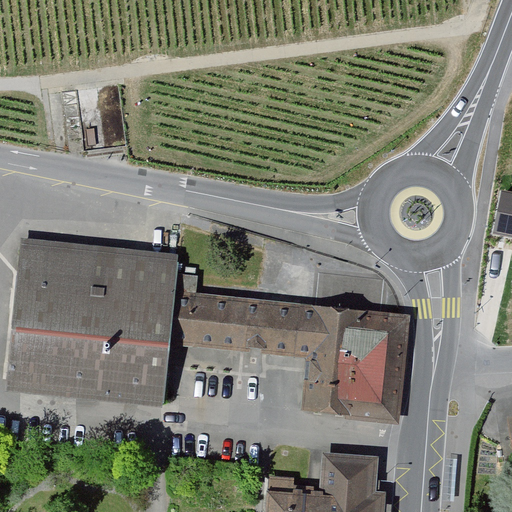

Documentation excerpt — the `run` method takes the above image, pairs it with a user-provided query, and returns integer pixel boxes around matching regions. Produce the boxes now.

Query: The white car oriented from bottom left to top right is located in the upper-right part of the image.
[451,95,470,118]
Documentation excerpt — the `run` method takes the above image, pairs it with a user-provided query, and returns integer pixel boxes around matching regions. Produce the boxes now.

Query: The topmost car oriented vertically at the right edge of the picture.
[490,250,502,277]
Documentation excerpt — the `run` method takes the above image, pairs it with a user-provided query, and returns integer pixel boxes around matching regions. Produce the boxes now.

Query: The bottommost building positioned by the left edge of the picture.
[6,238,180,408]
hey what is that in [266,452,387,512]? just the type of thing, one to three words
house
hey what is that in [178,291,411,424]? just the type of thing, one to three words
building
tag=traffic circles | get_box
[358,152,476,272]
